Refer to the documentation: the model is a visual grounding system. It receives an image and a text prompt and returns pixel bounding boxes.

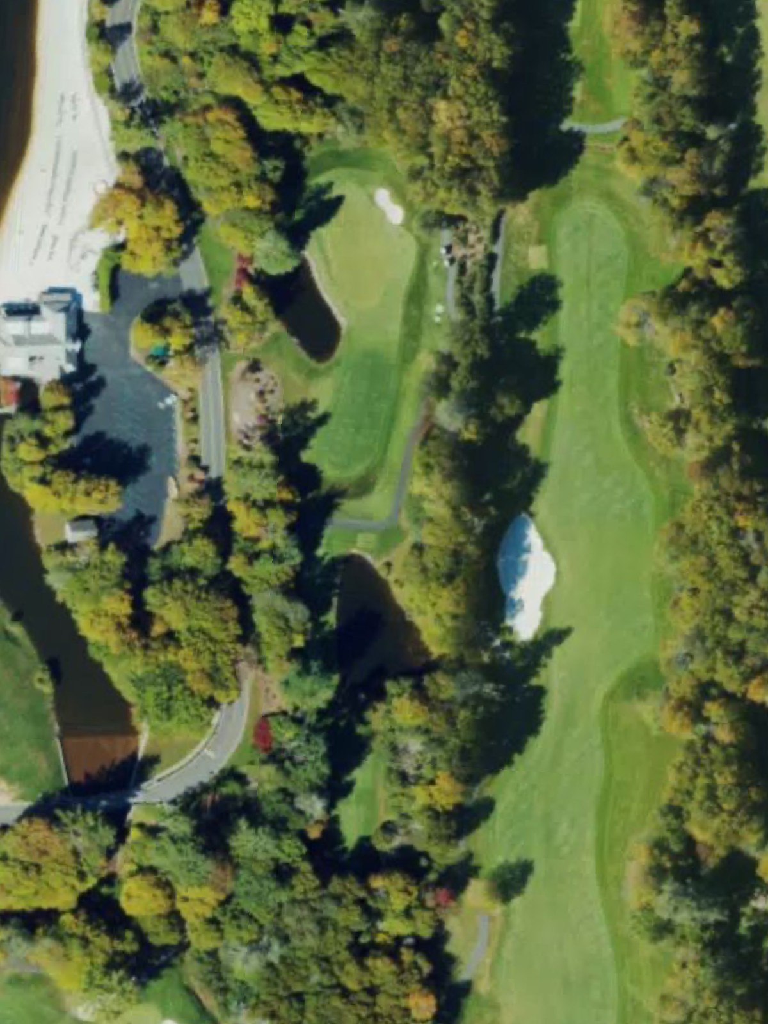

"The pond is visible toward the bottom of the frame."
[337,555,435,697]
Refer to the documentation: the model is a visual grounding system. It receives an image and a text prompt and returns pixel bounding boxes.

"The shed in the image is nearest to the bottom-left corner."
[65,519,97,543]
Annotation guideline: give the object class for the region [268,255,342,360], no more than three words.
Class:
pond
